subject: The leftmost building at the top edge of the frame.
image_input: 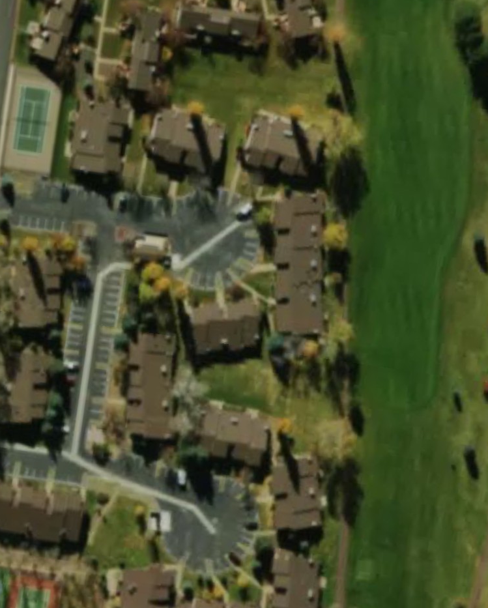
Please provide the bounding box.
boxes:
[22,0,75,58]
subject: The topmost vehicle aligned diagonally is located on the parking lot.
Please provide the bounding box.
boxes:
[236,203,252,216]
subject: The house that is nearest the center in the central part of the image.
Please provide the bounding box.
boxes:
[189,298,265,363]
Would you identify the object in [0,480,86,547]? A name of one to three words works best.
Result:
house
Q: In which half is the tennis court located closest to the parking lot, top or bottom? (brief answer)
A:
top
